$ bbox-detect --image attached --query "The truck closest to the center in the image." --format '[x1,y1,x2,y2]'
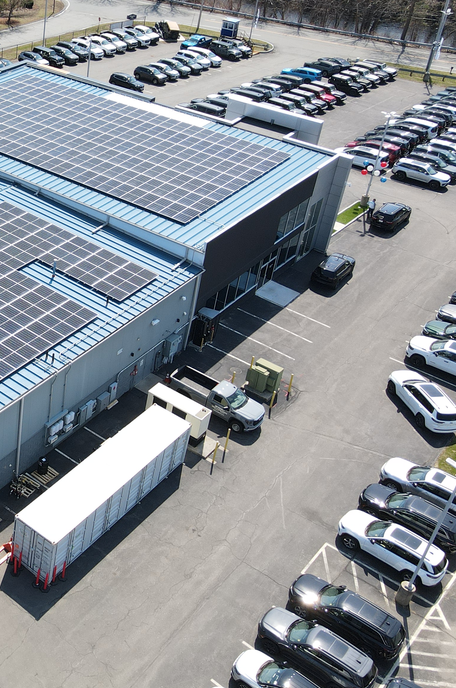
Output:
[167,367,268,435]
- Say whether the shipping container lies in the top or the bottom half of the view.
bottom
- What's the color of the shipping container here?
white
